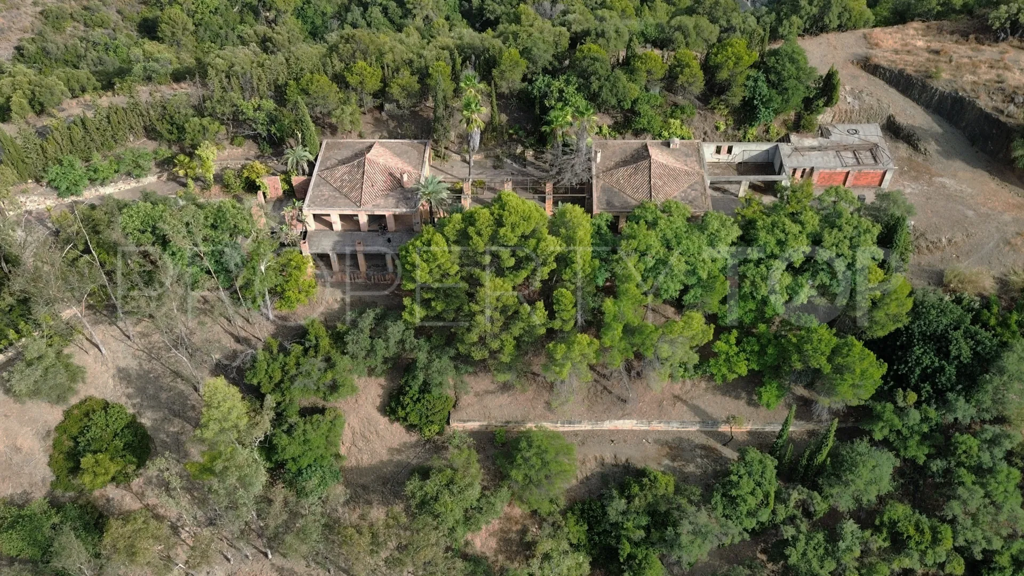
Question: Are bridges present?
No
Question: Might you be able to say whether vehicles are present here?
No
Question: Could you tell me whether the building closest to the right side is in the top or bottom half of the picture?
top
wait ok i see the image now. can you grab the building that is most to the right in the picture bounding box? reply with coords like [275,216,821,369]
[776,124,902,195]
